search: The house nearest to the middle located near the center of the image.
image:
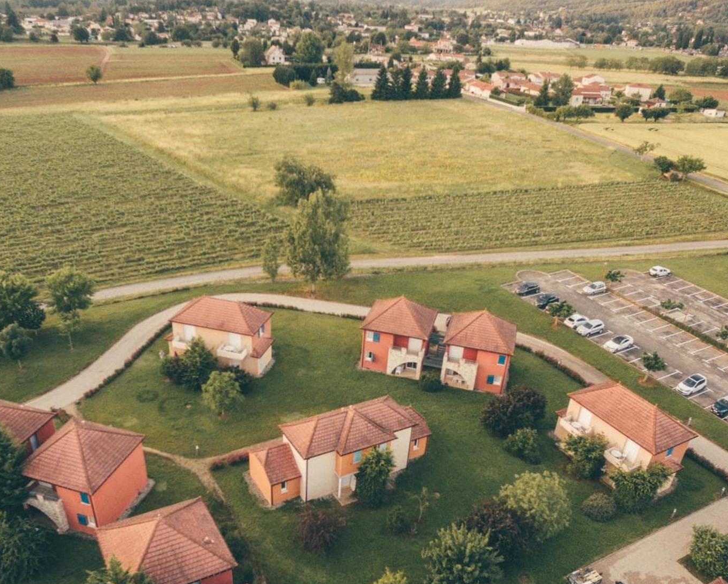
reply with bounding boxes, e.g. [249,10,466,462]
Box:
[359,293,439,375]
